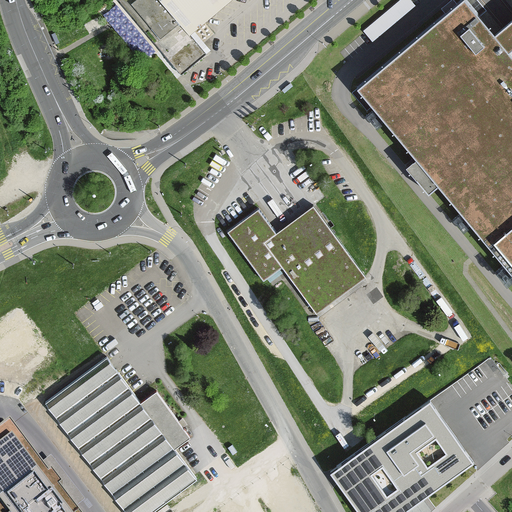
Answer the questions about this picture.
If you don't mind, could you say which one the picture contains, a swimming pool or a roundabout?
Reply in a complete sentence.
There is a roundabout in the scene.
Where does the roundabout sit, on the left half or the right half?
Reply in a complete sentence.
The roundabout sits on the left side.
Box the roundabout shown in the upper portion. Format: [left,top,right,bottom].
[46,142,144,242]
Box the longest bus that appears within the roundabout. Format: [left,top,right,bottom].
[107,152,136,193]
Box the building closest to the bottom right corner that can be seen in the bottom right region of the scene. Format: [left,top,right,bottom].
[330,400,474,512]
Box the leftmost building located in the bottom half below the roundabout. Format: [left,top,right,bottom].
[0,416,84,512]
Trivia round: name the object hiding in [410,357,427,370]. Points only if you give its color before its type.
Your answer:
white vehicle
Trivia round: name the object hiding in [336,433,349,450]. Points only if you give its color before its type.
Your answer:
white vehicle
